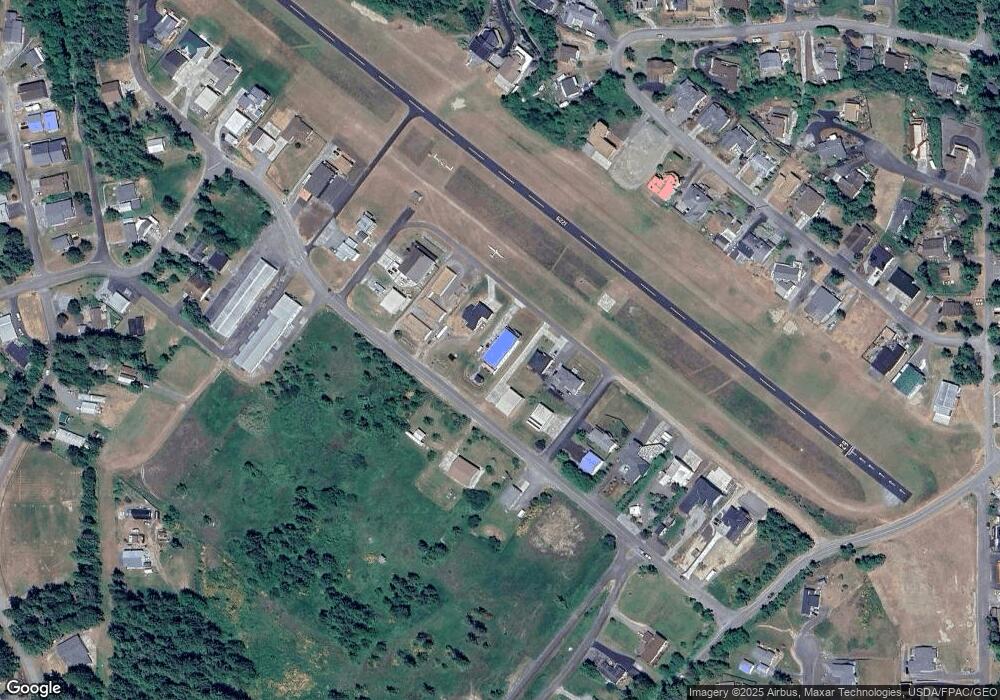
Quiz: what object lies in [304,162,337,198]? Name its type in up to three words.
hangar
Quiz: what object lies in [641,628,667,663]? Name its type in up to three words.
house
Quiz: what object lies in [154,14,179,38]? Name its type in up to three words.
house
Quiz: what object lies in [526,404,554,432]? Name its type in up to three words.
building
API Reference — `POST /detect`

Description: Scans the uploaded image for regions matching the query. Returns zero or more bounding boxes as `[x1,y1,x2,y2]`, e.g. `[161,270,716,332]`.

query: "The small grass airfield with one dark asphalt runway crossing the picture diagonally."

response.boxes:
[271,0,912,542]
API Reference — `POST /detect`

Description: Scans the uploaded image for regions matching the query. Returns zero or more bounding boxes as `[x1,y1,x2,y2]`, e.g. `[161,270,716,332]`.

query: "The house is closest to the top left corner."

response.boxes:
[3,10,24,45]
